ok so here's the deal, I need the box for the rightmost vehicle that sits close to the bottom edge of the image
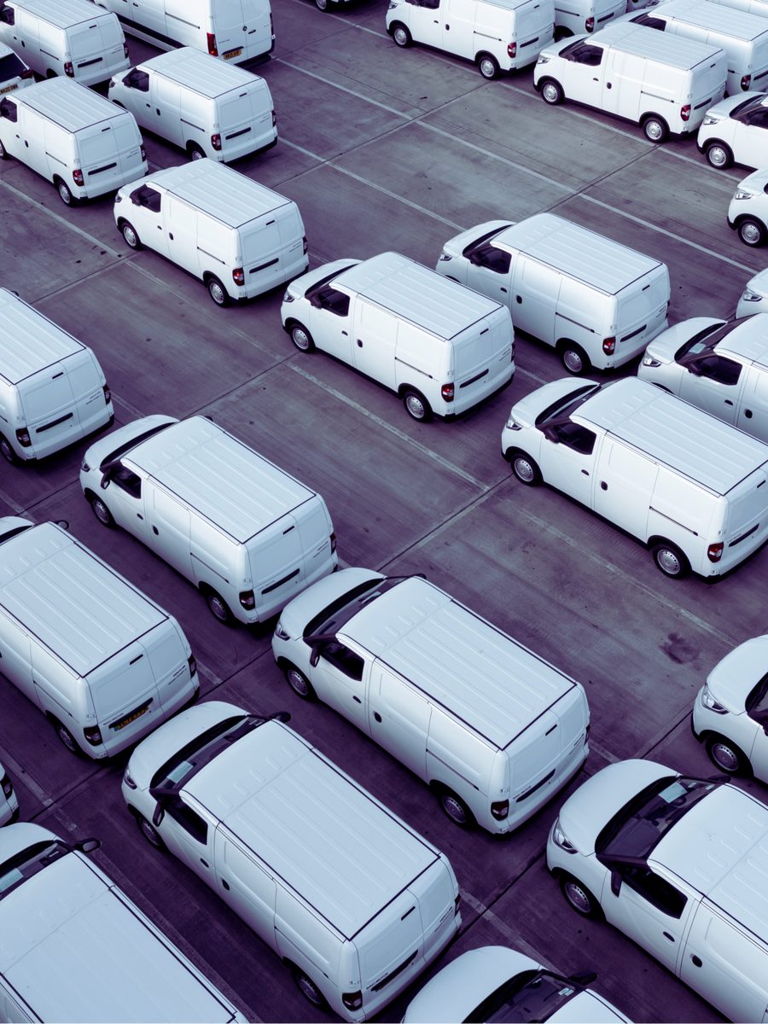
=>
[545,760,768,1024]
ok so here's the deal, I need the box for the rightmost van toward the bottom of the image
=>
[692,636,768,792]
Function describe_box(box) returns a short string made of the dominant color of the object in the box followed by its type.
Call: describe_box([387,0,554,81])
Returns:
white van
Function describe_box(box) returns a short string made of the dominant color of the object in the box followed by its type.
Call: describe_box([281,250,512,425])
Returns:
white van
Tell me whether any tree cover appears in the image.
No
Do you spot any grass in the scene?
No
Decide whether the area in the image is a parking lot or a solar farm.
parking lot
